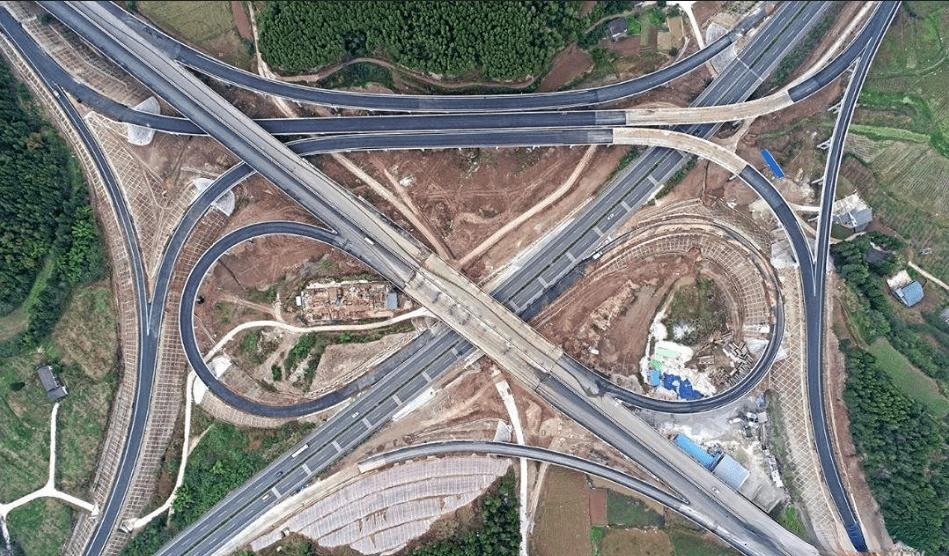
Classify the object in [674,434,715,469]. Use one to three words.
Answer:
shed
